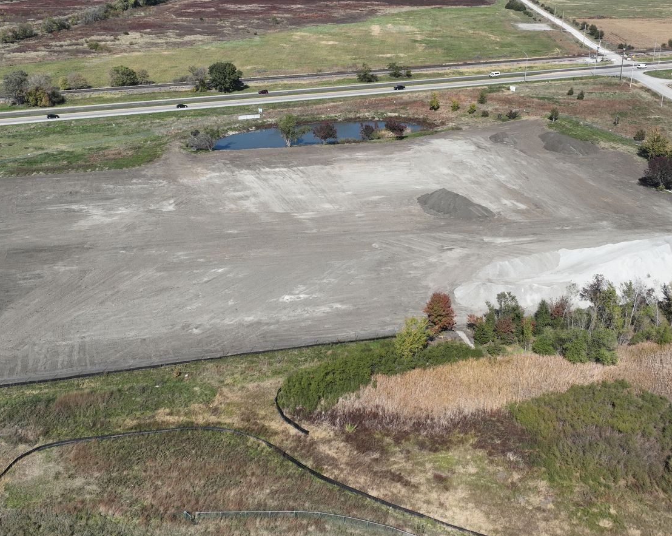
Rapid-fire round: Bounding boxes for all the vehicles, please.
[488,69,501,76]
[257,89,269,94]
[174,102,189,108]
[47,113,60,118]
[636,61,649,67]
[392,83,407,90]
